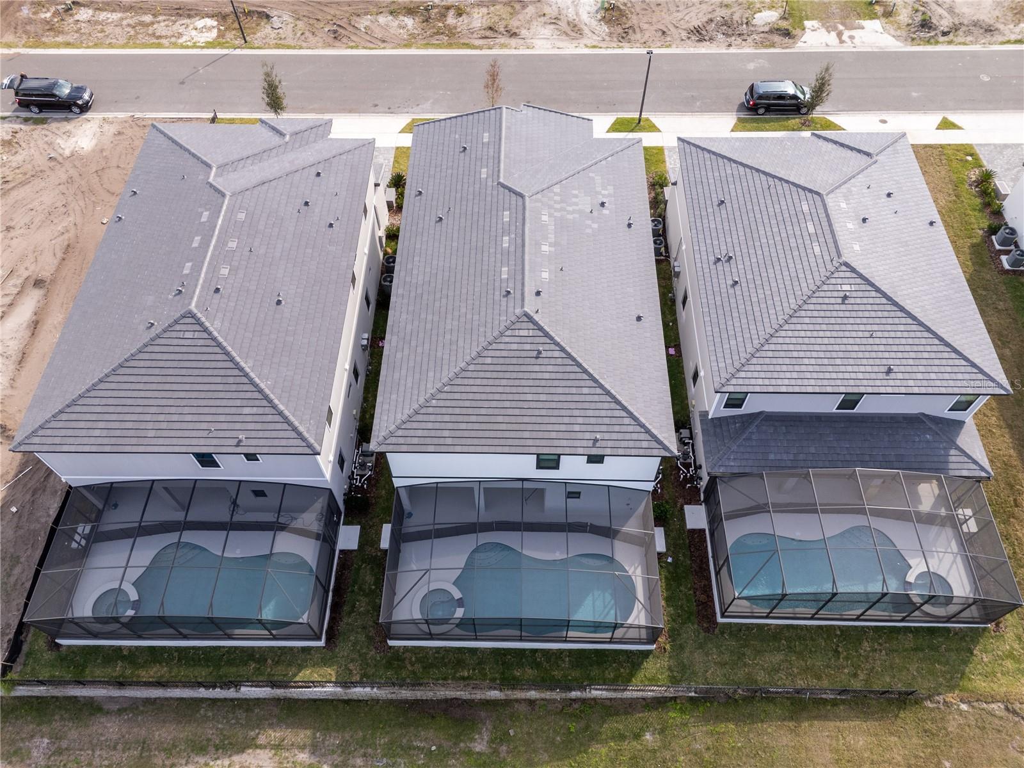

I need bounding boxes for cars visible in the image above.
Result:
[0,72,99,113]
[741,76,816,112]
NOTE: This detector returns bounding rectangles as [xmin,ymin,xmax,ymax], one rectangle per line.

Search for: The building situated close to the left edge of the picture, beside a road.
[9,117,387,511]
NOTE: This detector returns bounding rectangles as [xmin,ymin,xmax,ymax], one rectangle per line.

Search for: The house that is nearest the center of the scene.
[369,103,680,513]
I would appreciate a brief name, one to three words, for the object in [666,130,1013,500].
house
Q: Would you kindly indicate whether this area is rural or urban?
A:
urban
